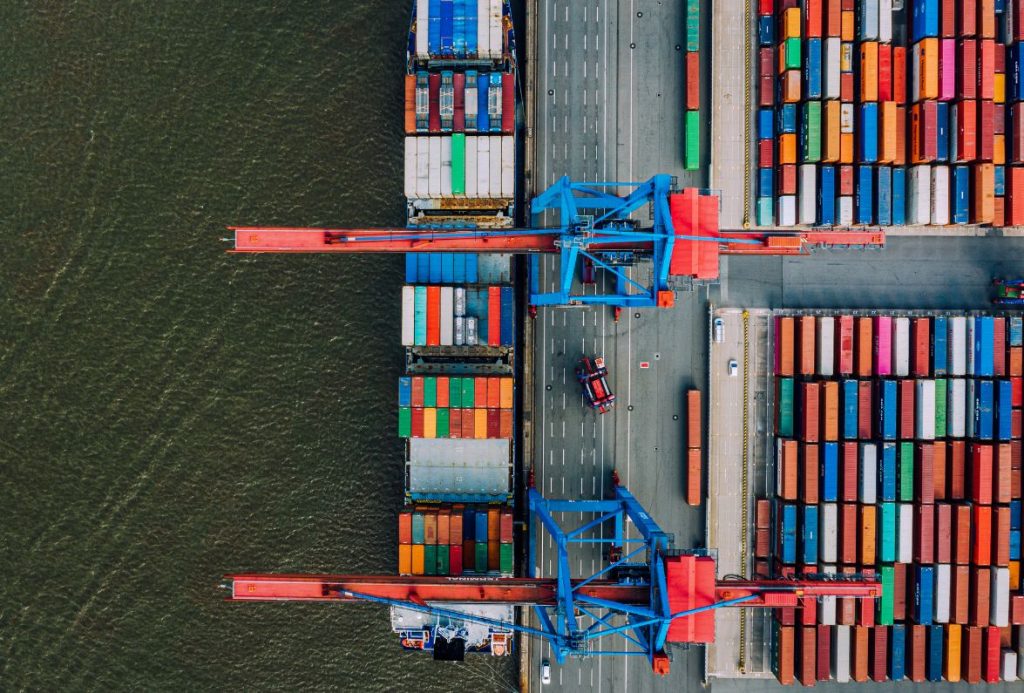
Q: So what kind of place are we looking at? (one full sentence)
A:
This image shows a port.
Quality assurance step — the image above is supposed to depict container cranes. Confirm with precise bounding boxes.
[223,473,881,673]
[220,169,888,321]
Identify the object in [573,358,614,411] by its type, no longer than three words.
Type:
work vehicle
